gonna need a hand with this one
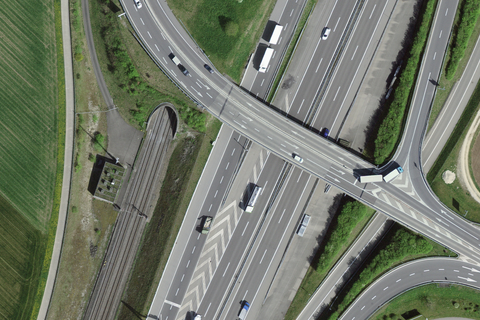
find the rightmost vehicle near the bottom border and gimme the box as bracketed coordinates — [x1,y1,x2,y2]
[238,303,252,320]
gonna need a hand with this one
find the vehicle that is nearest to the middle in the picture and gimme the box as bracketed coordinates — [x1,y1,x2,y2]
[245,186,262,212]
